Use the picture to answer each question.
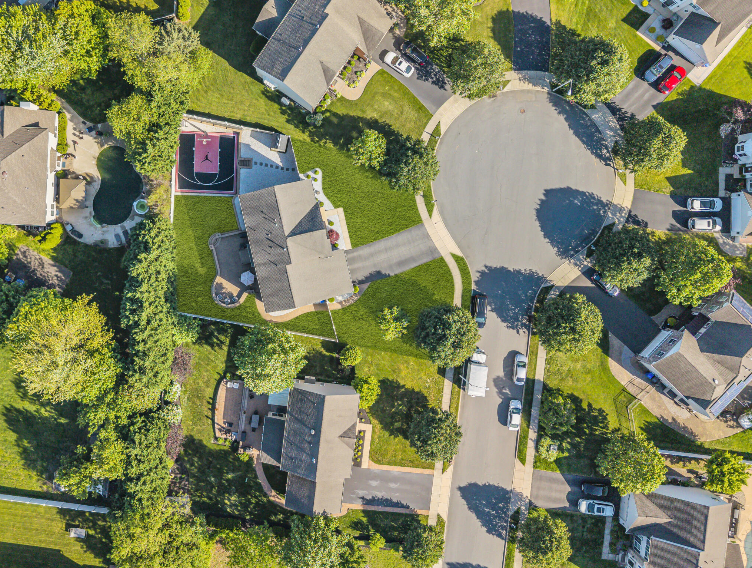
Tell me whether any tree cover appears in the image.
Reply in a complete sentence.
Yes, tree cover can be seen from above here.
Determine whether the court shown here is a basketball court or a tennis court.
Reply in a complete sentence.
It turns out the court is a basketball court.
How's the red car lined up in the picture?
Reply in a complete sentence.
Seen from above, the red car lies diagonally.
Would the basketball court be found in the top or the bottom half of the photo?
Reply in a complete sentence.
You can find the basketball court in the top half.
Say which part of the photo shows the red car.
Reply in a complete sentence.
The red car appears toward the top right of the photo.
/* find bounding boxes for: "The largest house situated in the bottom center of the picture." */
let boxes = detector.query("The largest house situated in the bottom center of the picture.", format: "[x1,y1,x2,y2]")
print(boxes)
[259,375,360,516]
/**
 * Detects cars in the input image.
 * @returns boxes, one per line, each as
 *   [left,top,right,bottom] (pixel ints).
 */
[578,498,615,517]
[579,480,609,498]
[657,66,687,96]
[589,274,621,299]
[687,216,722,232]
[512,353,530,386]
[642,51,675,85]
[473,294,490,328]
[506,399,523,431]
[382,51,417,77]
[687,197,723,212]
